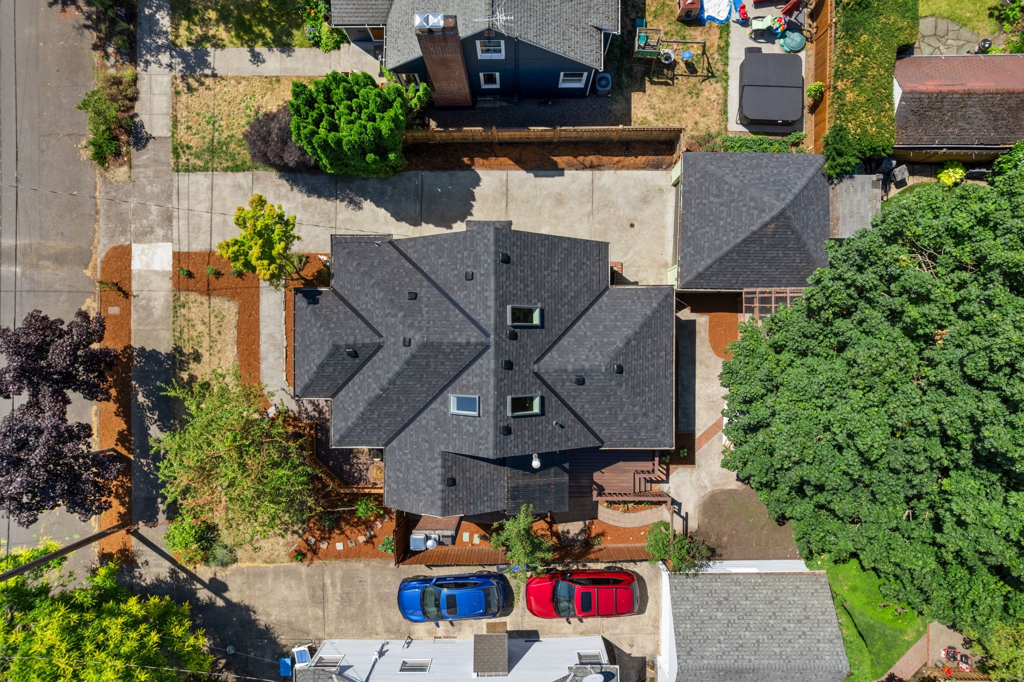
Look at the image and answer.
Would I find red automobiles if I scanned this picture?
Yes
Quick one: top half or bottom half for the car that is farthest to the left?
bottom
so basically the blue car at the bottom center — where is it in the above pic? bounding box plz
[398,572,507,630]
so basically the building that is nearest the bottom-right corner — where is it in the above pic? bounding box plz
[655,552,850,682]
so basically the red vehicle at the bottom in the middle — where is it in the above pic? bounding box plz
[527,569,639,627]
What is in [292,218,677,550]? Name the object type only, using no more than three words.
house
